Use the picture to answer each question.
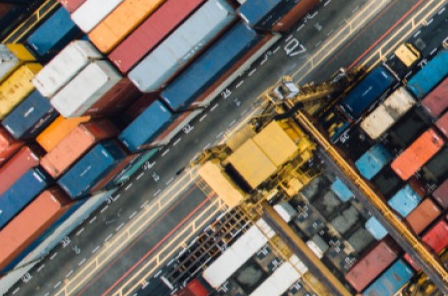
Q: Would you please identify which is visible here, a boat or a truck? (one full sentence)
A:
Of the two, only a truck appears.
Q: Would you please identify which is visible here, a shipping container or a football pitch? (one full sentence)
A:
The image shows a shipping container.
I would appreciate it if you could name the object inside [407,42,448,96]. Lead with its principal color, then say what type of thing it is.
blue shipping container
